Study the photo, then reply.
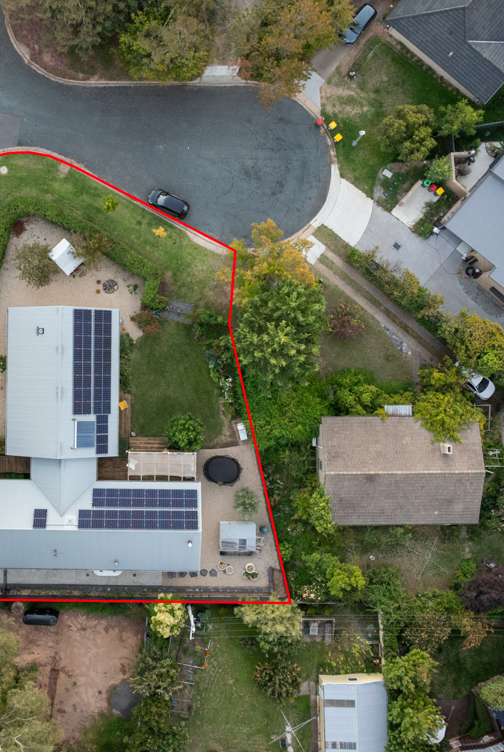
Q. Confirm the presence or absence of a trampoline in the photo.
Yes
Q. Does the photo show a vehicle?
Yes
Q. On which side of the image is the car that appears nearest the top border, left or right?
right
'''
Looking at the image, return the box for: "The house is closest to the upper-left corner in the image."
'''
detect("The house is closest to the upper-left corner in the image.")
[48,238,83,276]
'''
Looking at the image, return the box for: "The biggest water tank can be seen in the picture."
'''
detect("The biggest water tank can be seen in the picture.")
[24,608,60,624]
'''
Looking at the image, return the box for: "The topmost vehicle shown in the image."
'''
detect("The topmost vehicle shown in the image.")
[337,0,381,48]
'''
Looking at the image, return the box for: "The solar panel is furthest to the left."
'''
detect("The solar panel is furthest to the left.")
[33,509,47,529]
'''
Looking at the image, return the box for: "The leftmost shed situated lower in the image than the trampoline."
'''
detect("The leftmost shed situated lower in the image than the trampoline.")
[218,519,257,551]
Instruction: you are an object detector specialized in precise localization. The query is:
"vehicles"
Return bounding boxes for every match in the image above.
[337,0,381,48]
[145,187,193,221]
[453,361,497,403]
